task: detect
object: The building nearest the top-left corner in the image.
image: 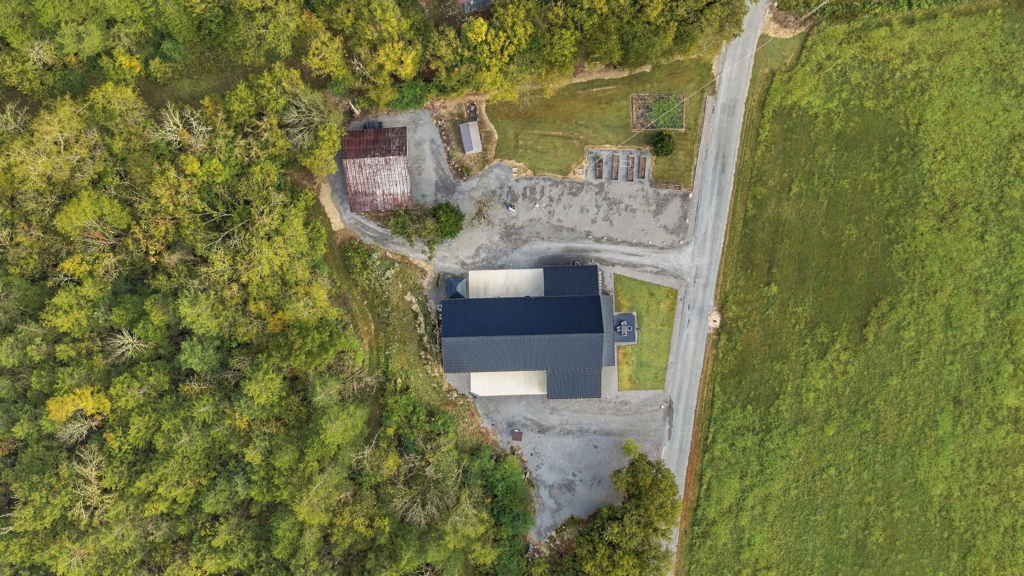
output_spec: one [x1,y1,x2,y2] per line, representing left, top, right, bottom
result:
[342,126,413,213]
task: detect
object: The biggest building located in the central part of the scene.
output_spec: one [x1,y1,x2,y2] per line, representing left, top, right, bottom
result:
[442,264,616,400]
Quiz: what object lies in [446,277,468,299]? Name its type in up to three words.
gazebo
